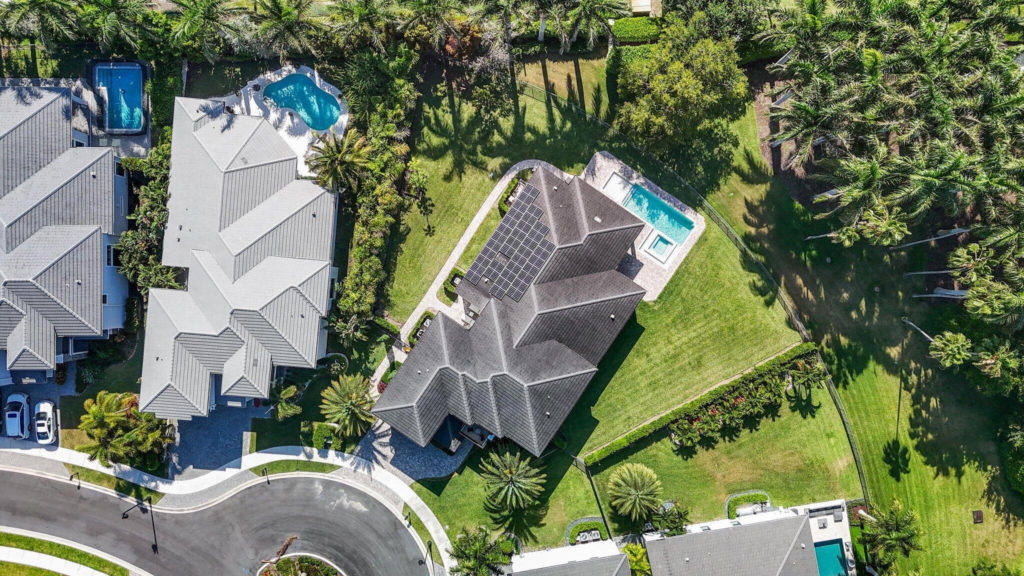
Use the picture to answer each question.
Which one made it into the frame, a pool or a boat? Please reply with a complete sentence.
There is a pool in the scene.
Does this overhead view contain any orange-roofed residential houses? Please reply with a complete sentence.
No, there is no orange-roofed residential house in the image.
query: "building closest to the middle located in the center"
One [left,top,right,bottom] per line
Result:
[371,165,647,457]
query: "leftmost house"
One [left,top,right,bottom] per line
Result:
[0,86,132,383]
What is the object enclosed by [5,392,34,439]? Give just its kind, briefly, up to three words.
car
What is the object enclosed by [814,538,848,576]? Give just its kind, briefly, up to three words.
swimming pool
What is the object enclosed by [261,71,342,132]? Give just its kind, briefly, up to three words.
swimming pool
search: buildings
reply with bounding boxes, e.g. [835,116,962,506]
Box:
[644,507,820,576]
[139,95,339,422]
[0,86,132,383]
[507,540,631,576]
[371,165,647,457]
